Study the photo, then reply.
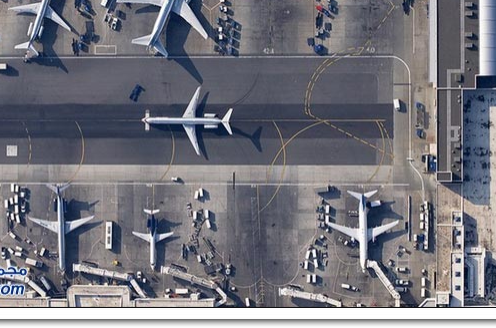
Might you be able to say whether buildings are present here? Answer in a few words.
Yes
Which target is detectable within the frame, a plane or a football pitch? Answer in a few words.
plane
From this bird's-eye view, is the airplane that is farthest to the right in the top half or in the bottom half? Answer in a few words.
bottom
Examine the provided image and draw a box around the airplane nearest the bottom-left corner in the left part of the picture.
[27,183,93,270]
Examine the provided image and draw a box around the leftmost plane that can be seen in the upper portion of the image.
[7,0,70,55]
